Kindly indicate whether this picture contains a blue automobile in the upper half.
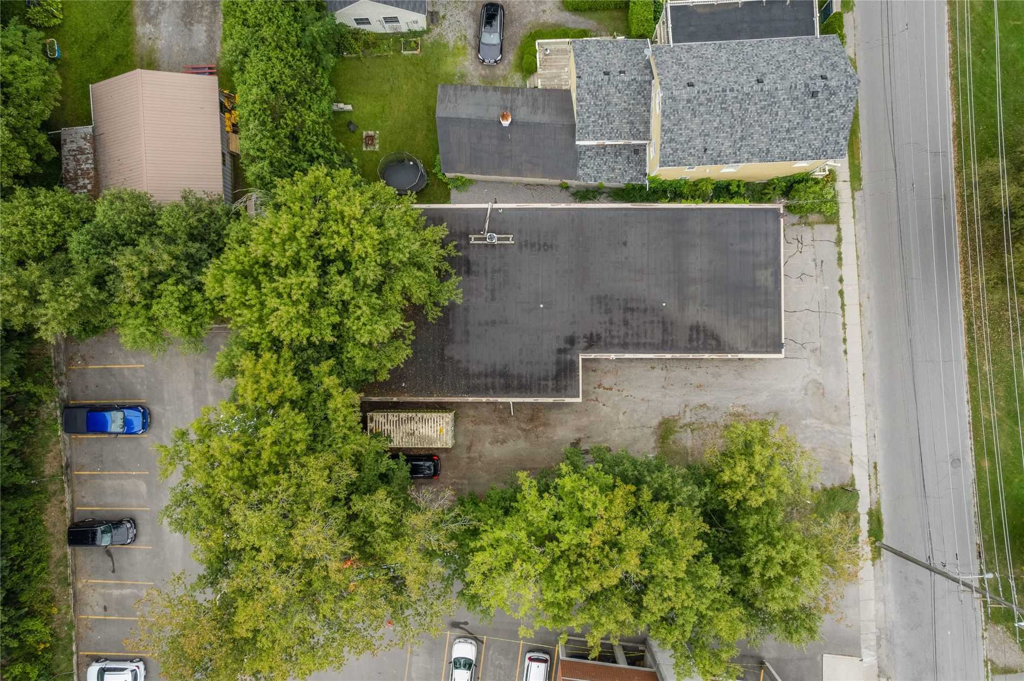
No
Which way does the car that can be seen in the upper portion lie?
from top to bottom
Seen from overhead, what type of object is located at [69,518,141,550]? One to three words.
car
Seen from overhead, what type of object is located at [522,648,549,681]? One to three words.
car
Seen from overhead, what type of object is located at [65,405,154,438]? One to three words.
truck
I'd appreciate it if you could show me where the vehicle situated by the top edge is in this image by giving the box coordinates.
[475,4,506,69]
